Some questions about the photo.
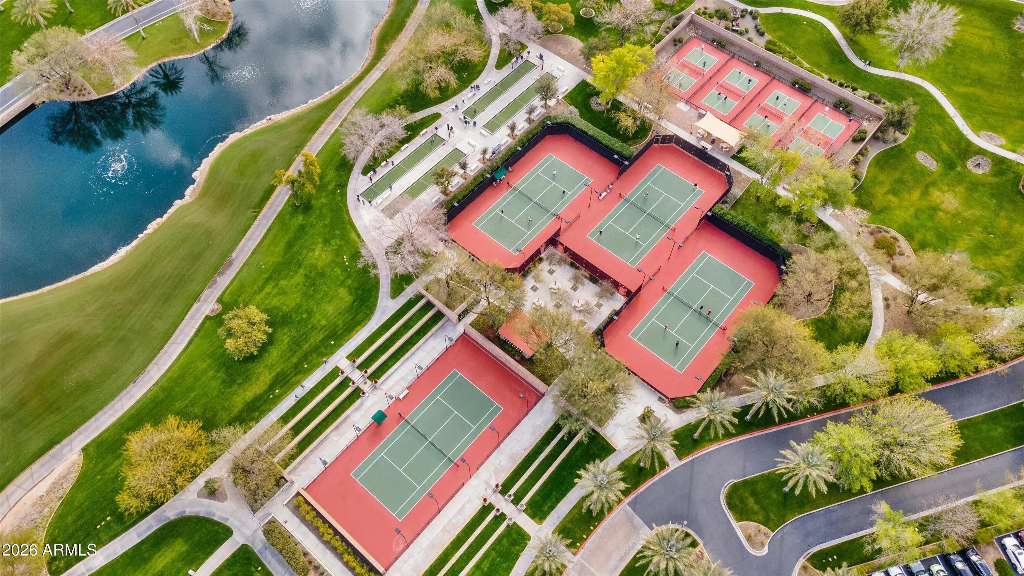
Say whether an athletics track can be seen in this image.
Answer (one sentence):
No, the scene contains no athletics track.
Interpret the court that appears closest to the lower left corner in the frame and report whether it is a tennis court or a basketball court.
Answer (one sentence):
I'd say the court that appears closest to the lower left corner is a tennis court.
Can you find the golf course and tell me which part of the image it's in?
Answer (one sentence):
The golf course is in the left part of the image.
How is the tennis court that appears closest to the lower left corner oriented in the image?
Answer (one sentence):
I'd say the tennis court that appears closest to the lower left corner is aligned diagonally in the picture.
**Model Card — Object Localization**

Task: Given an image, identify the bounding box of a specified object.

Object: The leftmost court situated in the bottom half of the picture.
[304,332,544,569]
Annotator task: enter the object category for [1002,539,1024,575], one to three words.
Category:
car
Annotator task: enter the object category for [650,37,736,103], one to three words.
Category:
sports court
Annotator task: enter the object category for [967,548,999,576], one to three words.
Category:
car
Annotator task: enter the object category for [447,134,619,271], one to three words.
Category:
tennis court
